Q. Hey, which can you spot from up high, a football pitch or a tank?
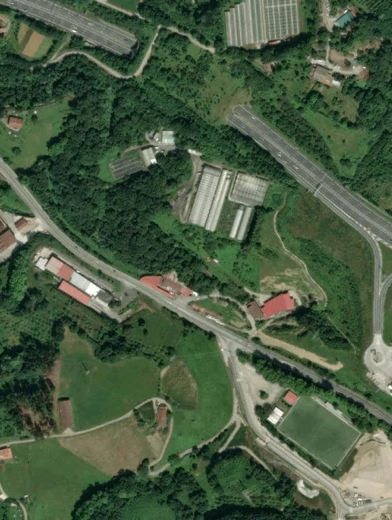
football pitch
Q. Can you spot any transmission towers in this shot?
No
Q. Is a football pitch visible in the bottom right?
Yes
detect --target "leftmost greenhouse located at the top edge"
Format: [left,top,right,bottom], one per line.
[226,0,267,46]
